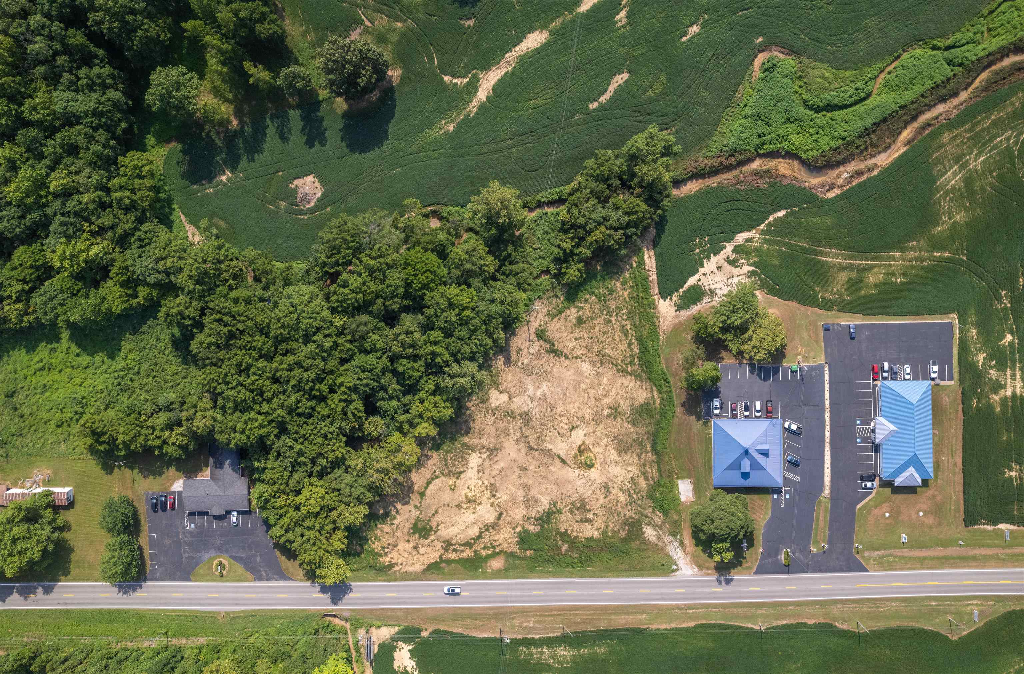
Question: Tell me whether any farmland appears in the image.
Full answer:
Yes, farmland shows up in the scene.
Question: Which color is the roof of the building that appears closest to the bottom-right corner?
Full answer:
The roof of the building that appears closest to the bottom-right corner is blue.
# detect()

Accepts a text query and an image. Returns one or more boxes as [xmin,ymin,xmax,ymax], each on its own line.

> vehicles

[848,324,856,340]
[870,364,879,380]
[890,364,898,379]
[928,360,938,379]
[783,421,803,435]
[861,482,876,489]
[754,401,762,417]
[168,495,176,509]
[159,493,168,510]
[765,400,773,418]
[859,474,875,481]
[903,365,910,380]
[150,495,159,511]
[881,362,890,378]
[742,400,750,416]
[730,403,738,417]
[786,456,801,465]
[444,586,461,594]
[232,511,239,526]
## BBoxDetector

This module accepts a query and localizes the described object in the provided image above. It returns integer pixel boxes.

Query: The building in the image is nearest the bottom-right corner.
[871,380,933,486]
